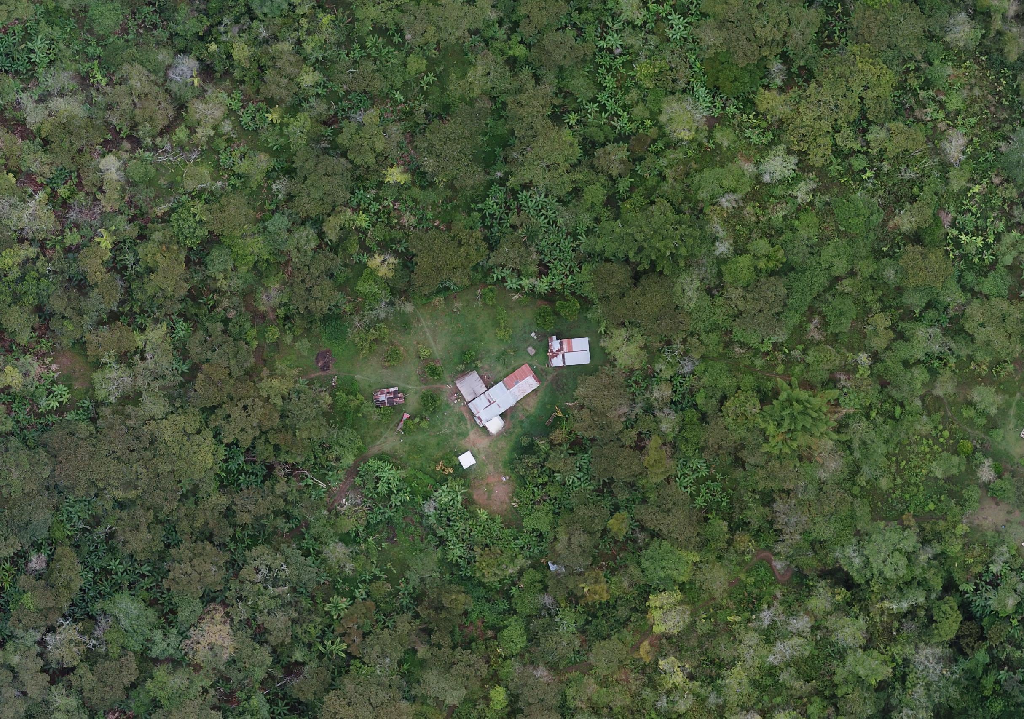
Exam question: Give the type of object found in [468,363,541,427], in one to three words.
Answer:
house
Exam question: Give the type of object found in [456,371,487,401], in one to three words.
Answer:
barn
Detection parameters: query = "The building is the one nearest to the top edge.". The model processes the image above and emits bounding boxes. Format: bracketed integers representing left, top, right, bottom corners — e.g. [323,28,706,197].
[547,336,590,367]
